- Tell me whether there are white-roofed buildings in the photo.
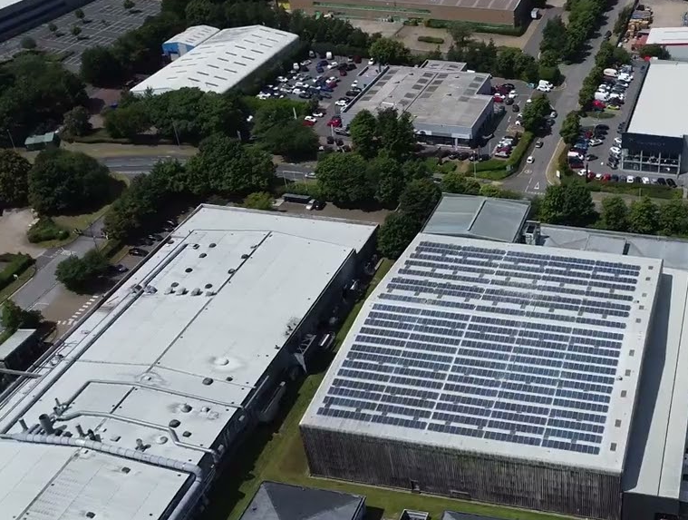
Yes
